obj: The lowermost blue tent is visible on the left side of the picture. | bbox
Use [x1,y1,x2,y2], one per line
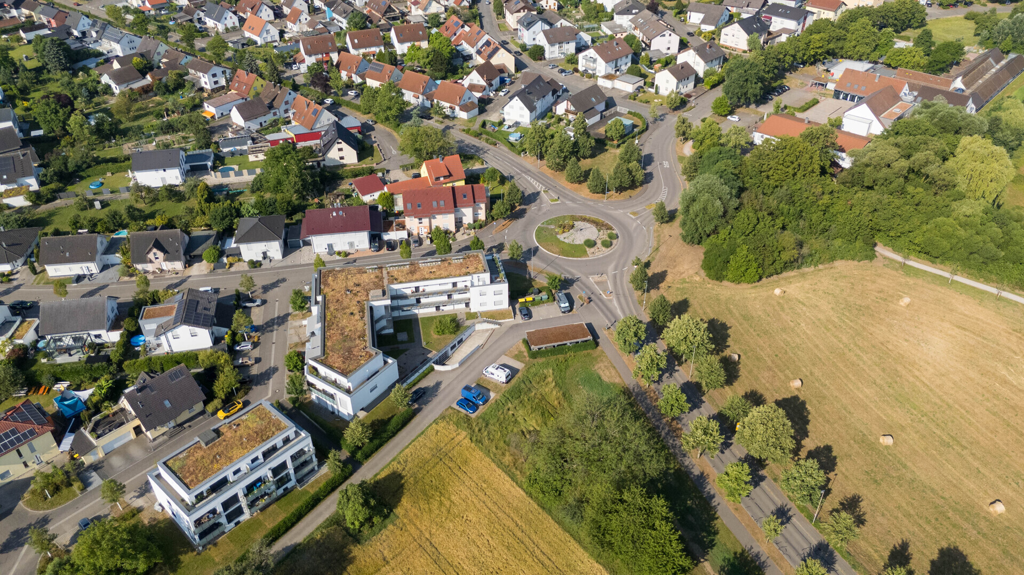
[54,391,90,429]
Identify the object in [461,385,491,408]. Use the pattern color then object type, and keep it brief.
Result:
blue vehicle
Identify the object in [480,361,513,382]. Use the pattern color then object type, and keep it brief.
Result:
white vehicle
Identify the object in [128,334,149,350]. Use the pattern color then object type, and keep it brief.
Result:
blue swimming pool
